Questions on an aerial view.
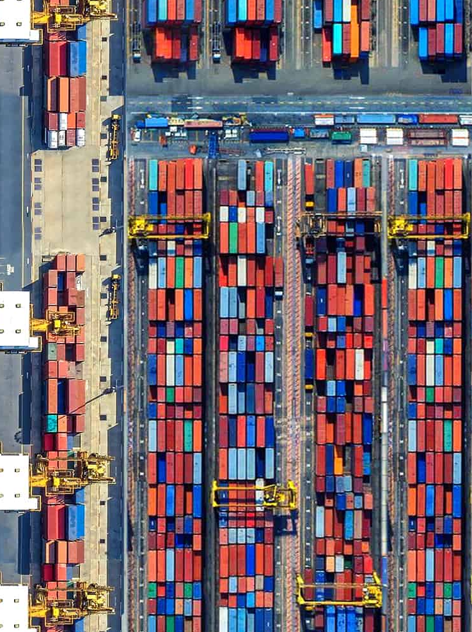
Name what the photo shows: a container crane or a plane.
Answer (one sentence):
There is a container crane in the scene.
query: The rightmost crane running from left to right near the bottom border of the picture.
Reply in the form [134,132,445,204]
[289,575,385,604]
